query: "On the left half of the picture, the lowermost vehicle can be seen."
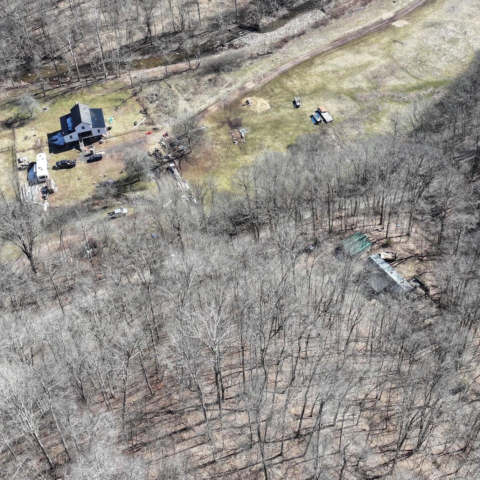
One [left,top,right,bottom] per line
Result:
[105,209,130,222]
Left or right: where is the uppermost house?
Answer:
left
